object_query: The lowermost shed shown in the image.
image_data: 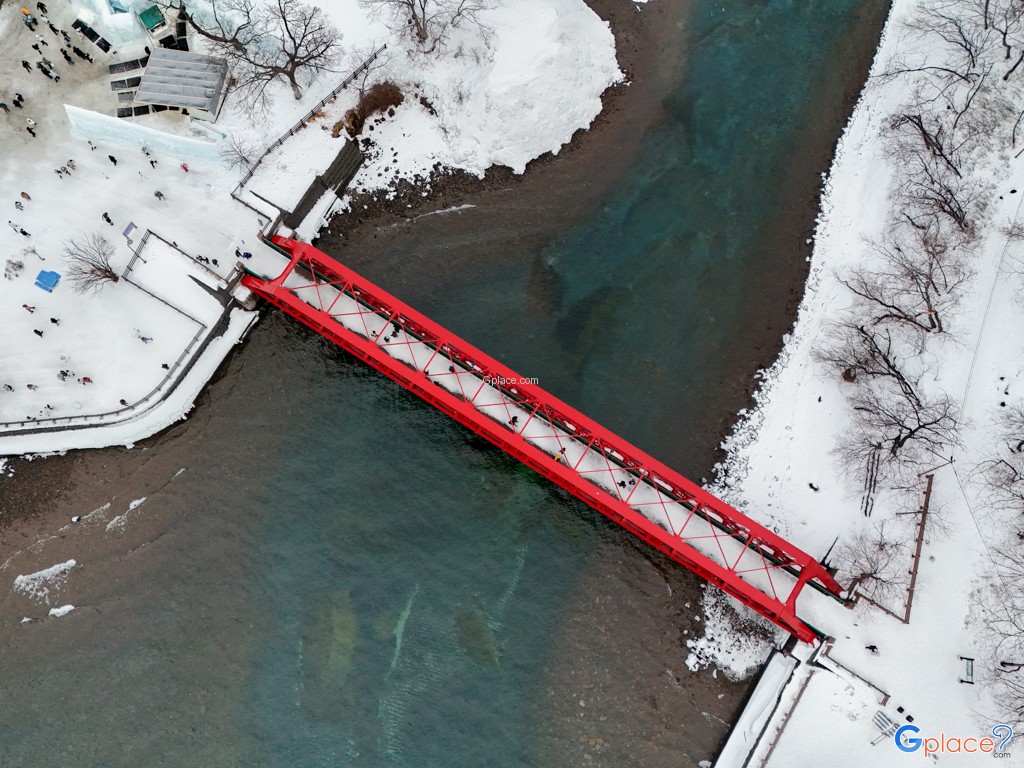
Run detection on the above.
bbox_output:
[134,47,231,129]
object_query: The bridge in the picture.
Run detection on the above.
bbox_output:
[238,231,847,649]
